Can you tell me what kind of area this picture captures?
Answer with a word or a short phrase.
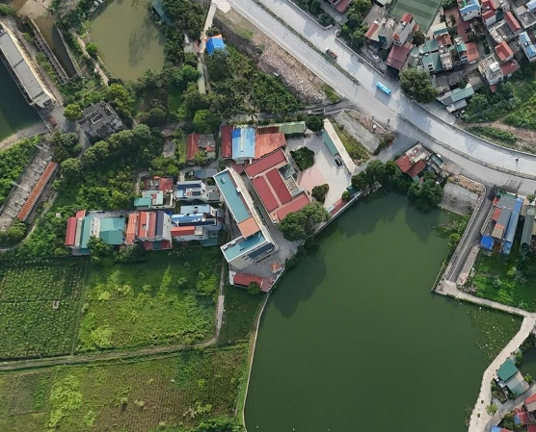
residential area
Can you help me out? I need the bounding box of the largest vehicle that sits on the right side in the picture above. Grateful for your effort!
[374,80,392,95]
